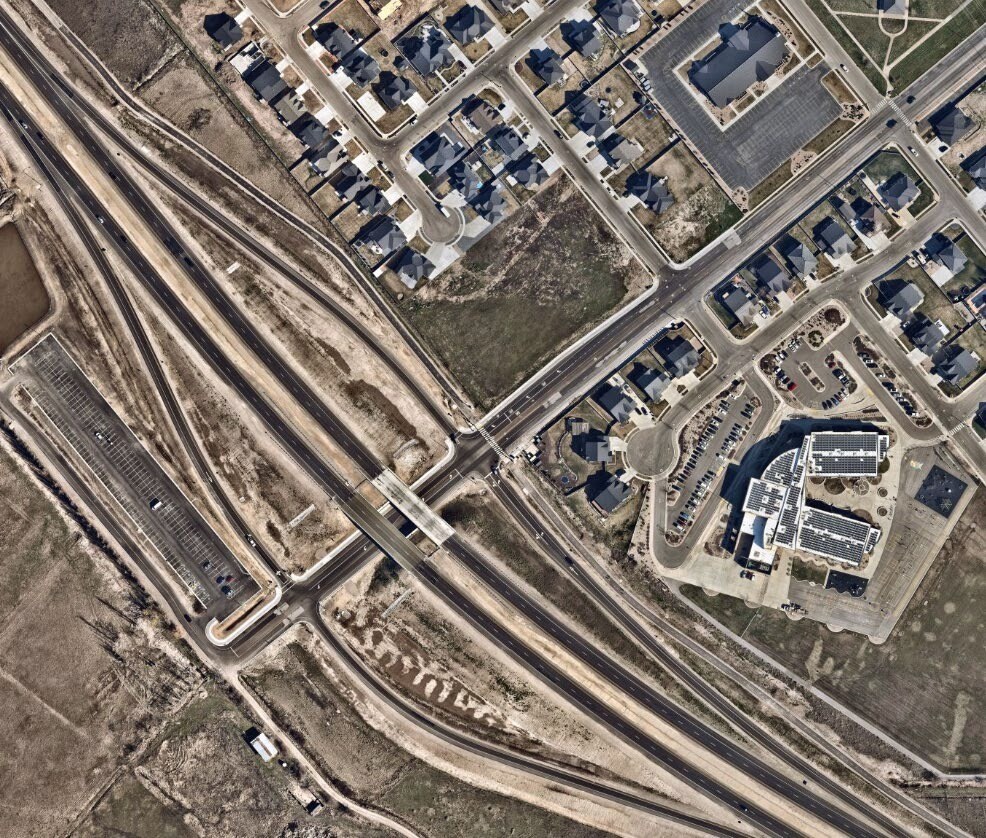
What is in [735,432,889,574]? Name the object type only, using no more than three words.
building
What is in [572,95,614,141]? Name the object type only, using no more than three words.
house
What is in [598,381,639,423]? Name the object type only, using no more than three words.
house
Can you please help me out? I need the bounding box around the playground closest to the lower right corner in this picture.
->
[825,569,869,597]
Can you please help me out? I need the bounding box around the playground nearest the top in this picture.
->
[915,464,968,518]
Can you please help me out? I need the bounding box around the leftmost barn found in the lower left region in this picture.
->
[250,733,277,762]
